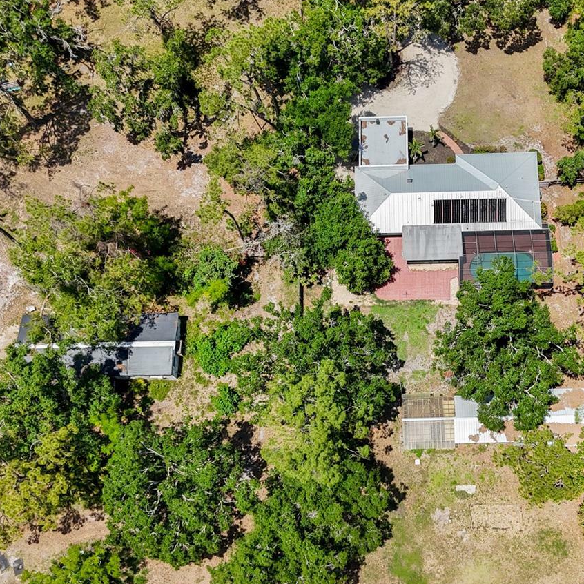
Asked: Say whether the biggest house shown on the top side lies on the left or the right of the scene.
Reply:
right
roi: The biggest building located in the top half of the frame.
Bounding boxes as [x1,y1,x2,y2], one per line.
[353,152,541,266]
